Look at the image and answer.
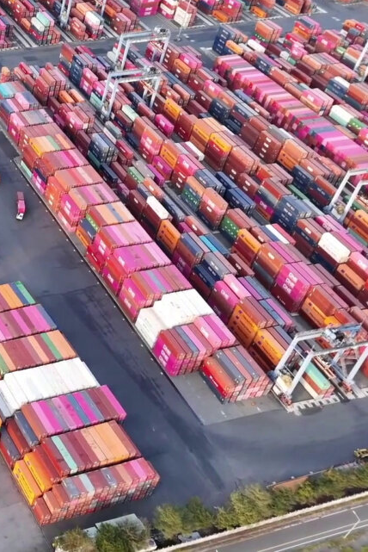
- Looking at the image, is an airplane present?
No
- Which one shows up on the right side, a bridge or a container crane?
container crane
